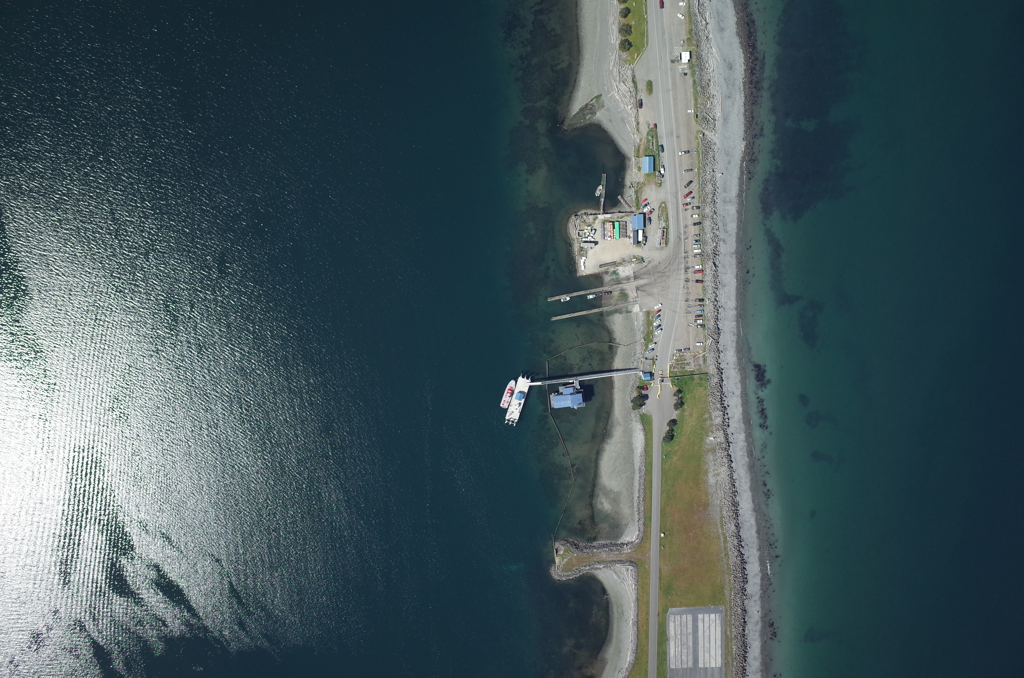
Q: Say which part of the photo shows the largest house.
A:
center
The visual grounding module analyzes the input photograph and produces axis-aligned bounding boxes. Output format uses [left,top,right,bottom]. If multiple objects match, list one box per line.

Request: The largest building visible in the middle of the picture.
[550,386,585,409]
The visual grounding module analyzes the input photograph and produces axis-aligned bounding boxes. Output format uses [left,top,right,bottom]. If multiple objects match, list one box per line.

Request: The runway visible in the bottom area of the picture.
[667,606,725,678]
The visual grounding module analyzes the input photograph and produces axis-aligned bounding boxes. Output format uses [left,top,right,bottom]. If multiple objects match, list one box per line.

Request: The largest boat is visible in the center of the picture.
[500,380,514,409]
